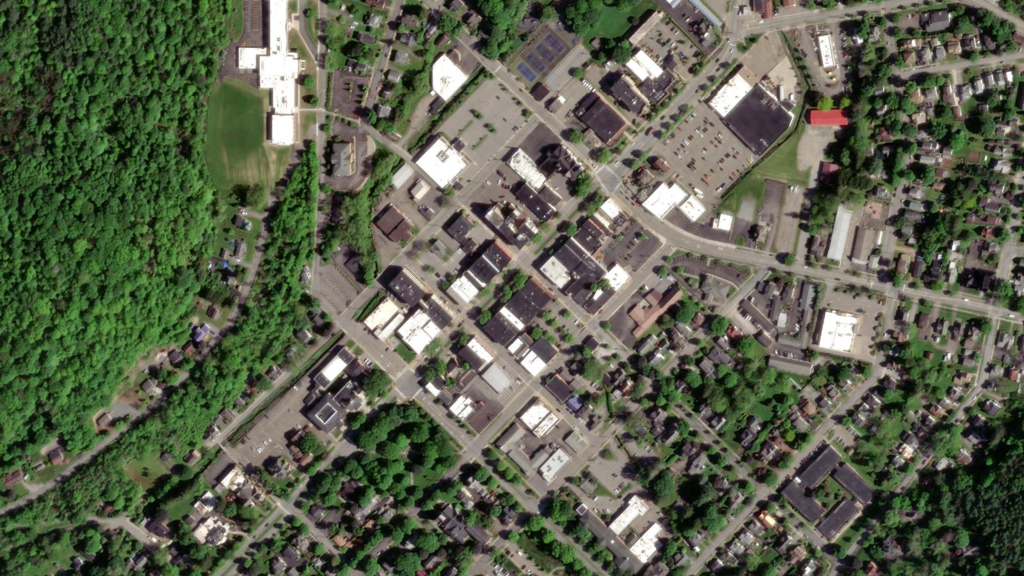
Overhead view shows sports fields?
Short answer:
Yes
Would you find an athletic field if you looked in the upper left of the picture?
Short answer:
Yes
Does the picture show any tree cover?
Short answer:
Yes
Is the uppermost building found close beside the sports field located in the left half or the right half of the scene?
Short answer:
left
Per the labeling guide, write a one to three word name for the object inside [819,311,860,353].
building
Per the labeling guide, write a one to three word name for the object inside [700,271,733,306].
house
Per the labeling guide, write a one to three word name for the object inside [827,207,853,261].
shed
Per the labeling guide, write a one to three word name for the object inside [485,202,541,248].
building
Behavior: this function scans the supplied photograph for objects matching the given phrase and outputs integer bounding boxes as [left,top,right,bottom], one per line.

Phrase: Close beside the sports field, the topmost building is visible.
[238,0,301,145]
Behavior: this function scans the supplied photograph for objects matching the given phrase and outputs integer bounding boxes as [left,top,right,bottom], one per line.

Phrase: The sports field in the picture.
[219,81,268,192]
